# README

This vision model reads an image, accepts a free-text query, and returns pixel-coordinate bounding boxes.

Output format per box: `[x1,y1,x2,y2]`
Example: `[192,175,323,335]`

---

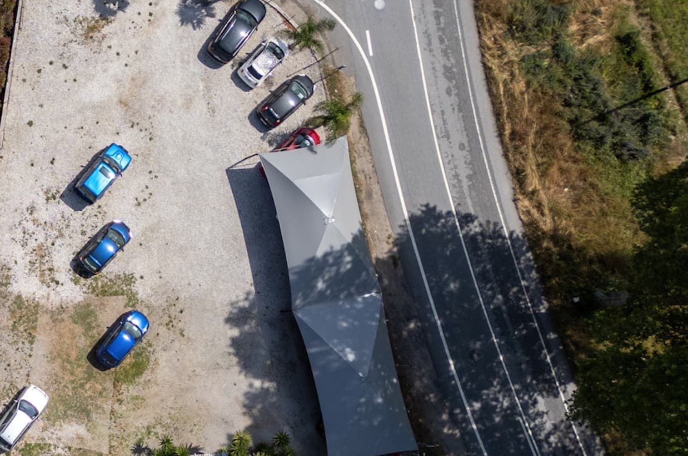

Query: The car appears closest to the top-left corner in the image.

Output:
[74,140,136,207]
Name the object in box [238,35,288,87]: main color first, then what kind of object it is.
white car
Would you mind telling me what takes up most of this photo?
paved ground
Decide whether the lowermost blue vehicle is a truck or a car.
car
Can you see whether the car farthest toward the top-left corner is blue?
Yes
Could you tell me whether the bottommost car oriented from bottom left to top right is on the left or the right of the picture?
left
